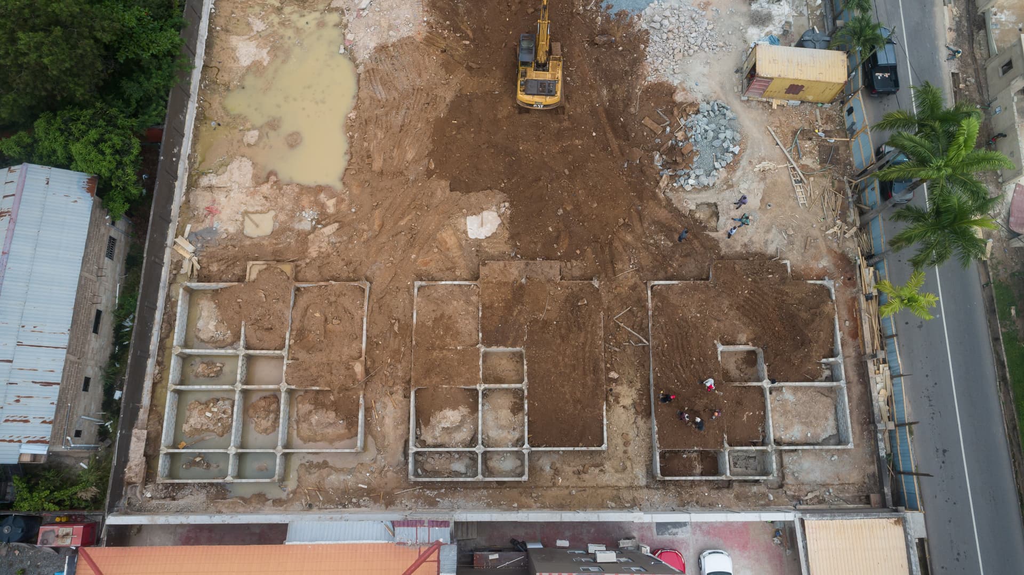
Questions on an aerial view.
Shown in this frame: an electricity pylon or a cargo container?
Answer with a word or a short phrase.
cargo container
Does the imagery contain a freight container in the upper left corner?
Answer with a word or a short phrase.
No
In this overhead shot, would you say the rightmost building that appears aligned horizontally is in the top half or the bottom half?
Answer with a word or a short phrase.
bottom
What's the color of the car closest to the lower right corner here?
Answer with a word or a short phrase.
white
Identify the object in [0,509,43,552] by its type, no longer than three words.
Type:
water tank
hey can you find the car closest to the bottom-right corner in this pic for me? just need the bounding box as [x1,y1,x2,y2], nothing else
[697,546,736,575]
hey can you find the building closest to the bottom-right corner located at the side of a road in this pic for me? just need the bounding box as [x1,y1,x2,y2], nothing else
[789,511,928,575]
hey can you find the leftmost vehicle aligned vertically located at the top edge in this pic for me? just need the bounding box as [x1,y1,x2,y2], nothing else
[515,0,563,115]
